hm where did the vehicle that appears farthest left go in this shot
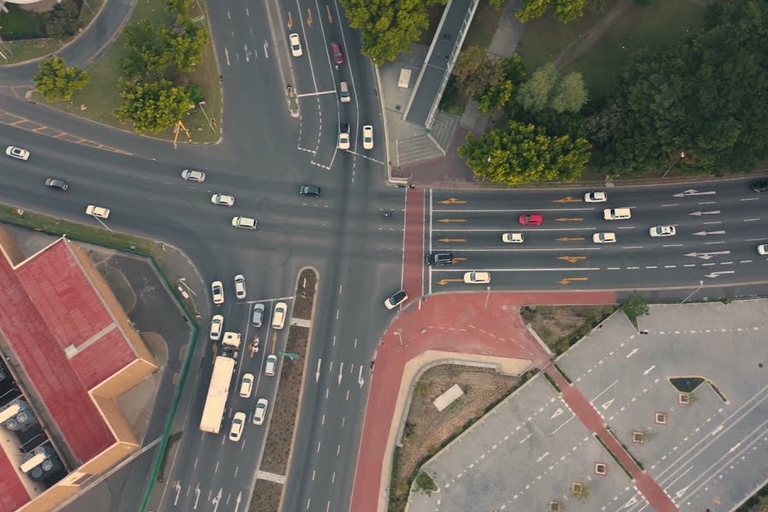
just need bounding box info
[5,146,32,162]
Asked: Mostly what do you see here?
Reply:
paved ground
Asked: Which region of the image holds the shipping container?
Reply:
bottom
